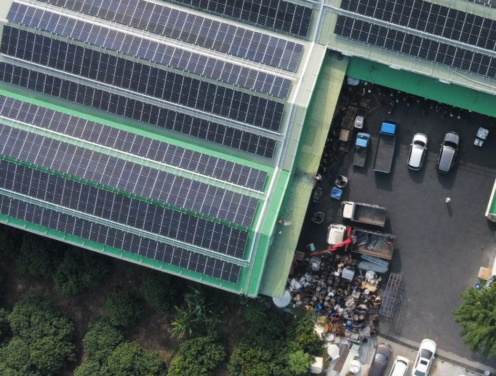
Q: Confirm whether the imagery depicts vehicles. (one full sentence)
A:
Yes, the picture does show a vehicle.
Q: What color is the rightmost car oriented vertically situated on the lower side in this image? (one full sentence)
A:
The rightmost car oriented vertically situated on the lower side is white.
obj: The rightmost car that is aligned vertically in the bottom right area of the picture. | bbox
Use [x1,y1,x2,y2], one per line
[413,337,435,376]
